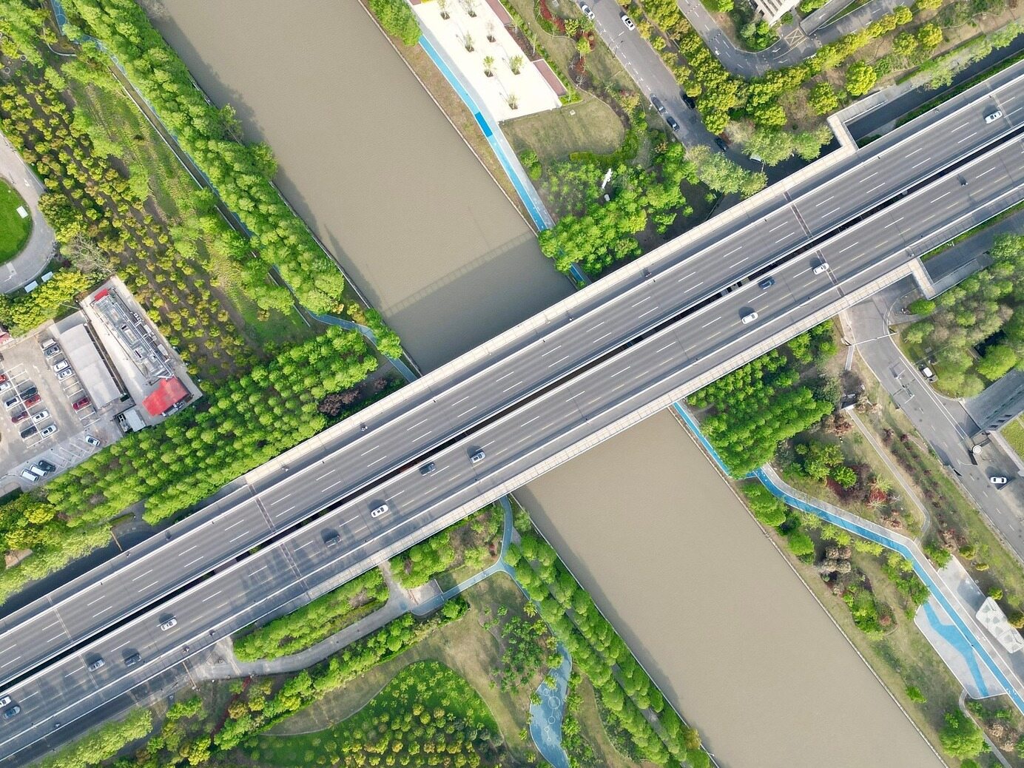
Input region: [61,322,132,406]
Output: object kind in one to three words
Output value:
shed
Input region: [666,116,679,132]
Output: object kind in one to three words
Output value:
vehicle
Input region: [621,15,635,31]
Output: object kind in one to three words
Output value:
car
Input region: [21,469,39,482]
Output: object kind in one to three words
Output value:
vehicle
